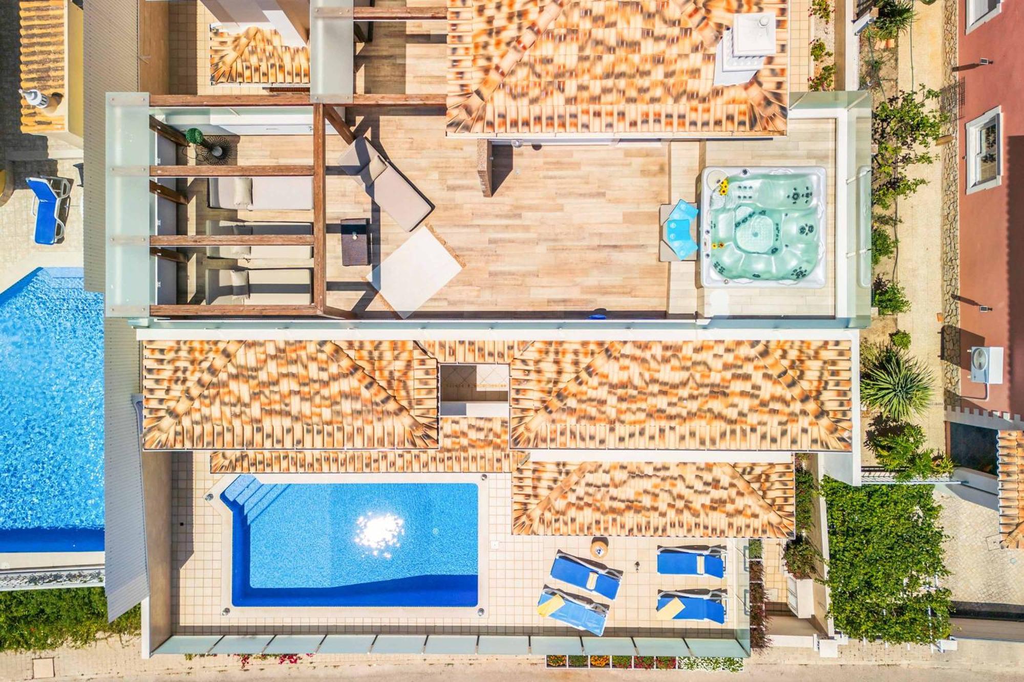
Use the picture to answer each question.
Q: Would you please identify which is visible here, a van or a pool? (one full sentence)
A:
It is a pool that can be seen here.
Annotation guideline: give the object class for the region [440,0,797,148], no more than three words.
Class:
house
